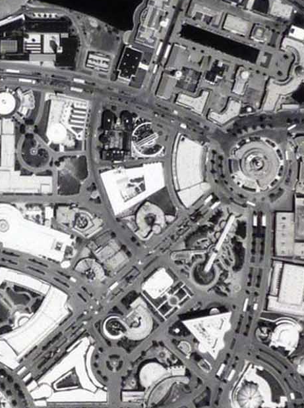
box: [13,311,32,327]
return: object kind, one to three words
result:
fountain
